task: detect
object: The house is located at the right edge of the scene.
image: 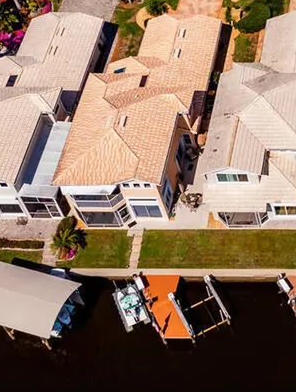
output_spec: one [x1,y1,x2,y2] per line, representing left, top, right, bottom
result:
[200,11,296,228]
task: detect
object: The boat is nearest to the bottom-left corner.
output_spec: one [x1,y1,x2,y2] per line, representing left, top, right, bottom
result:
[50,306,84,344]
